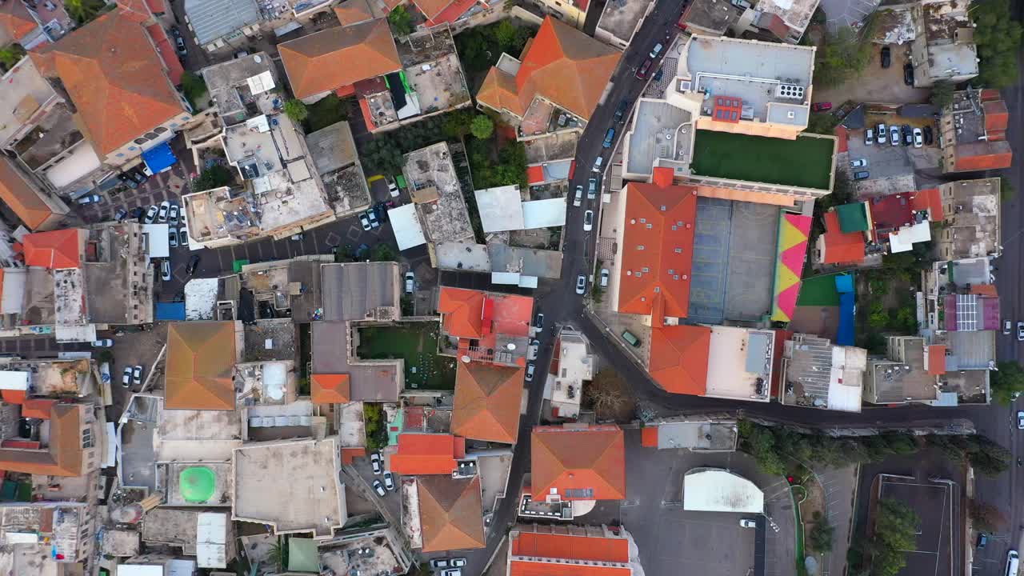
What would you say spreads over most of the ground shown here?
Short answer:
buildings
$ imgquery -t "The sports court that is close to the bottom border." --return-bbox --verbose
[843,466,960,576]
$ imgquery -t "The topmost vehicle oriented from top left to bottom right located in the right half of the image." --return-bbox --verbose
[620,328,641,349]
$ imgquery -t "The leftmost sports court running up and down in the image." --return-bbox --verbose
[682,196,732,323]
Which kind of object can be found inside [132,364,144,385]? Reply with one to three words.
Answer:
vehicle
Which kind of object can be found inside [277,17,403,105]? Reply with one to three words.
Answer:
house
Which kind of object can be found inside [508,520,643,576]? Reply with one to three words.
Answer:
building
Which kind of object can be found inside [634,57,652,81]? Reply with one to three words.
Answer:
vehicle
